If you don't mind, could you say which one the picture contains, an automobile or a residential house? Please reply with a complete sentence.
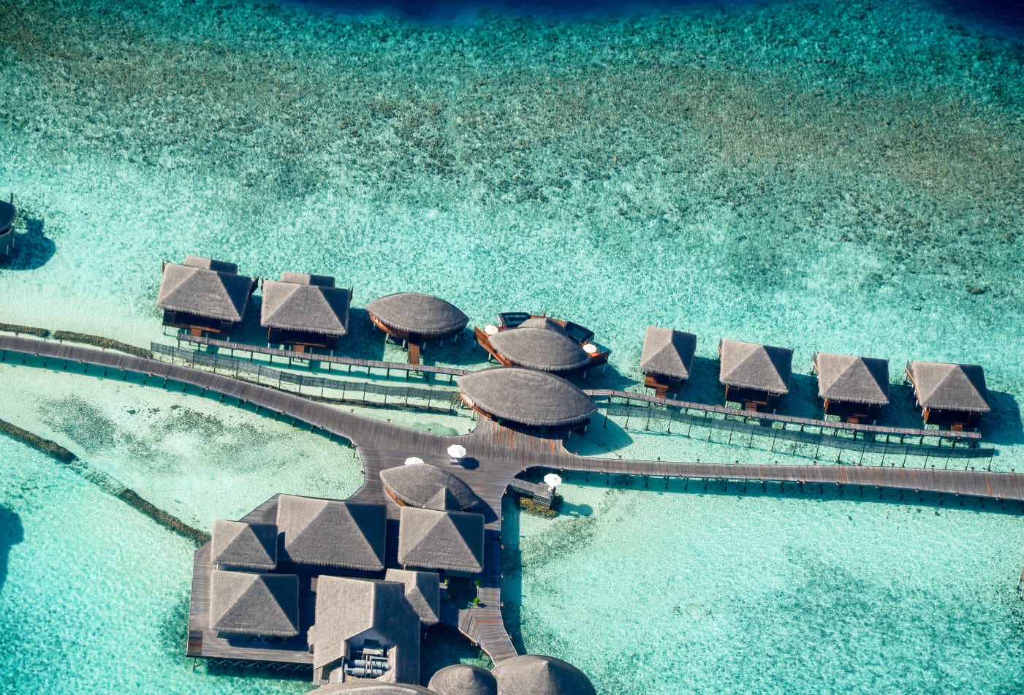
This aerial view contains a residential house.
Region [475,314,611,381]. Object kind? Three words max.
building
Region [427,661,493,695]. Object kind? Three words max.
building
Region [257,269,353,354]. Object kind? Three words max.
house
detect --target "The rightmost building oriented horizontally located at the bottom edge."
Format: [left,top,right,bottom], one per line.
[491,651,599,695]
